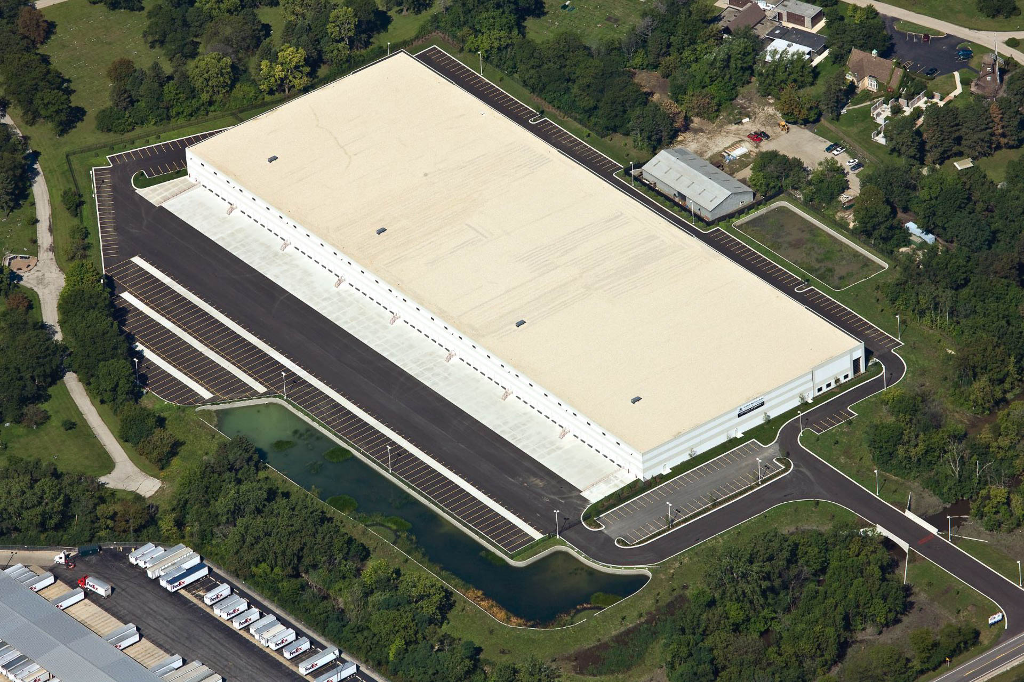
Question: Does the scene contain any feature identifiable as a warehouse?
Yes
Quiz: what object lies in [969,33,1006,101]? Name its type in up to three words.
windmill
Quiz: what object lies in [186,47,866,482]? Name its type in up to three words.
warehouse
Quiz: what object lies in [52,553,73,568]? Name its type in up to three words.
vehicle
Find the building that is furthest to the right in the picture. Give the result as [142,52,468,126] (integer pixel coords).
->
[903,221,934,245]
